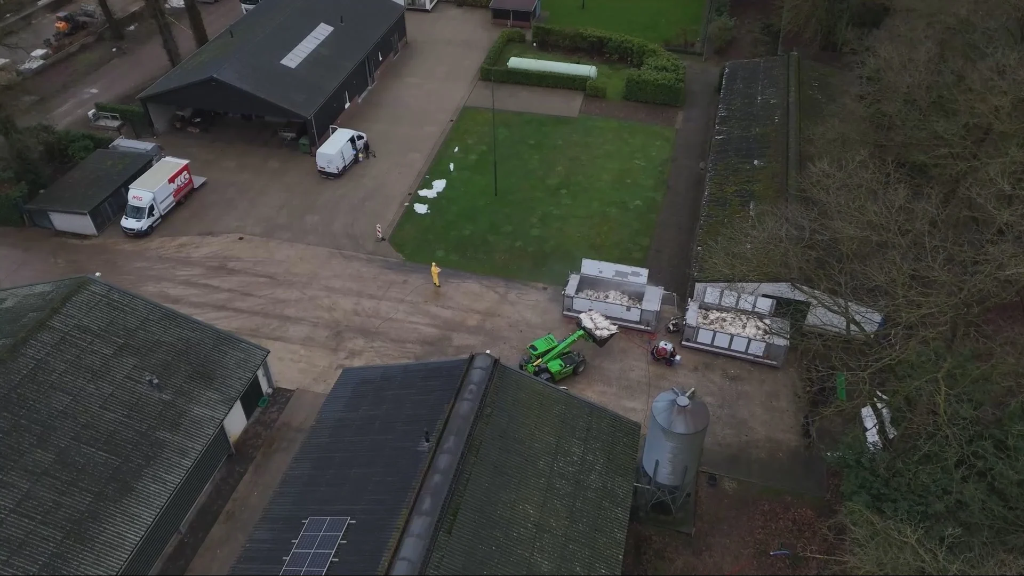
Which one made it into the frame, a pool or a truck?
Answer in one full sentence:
The one in the frame is a truck.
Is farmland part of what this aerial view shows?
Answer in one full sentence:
No, the picture contains no farmland.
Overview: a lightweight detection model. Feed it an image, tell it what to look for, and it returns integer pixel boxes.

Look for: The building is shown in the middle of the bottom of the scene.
[226,349,642,576]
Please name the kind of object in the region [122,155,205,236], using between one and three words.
truck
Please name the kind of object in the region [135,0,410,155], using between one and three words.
barn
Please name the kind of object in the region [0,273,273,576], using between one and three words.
barn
